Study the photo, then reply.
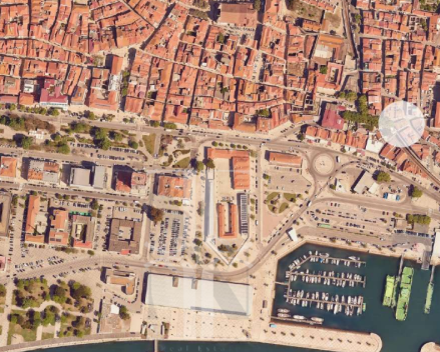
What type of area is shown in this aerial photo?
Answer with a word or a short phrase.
residential area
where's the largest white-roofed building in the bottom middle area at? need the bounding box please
[146,273,249,317]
